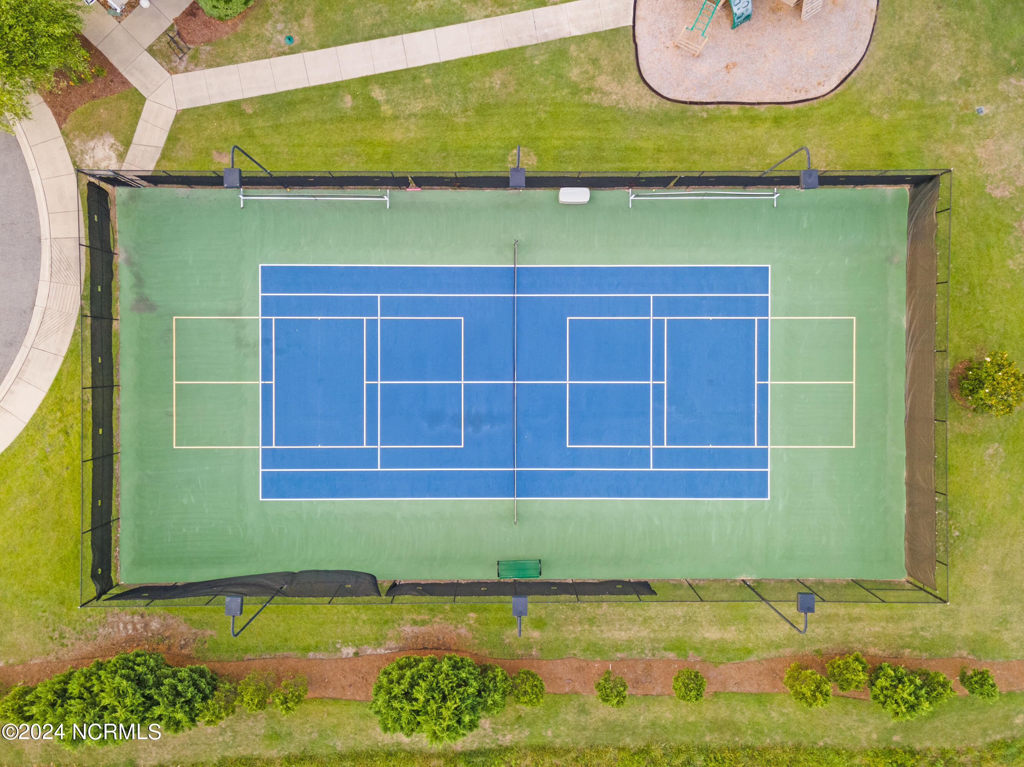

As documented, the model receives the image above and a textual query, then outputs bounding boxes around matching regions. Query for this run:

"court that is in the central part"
[116,187,907,585]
